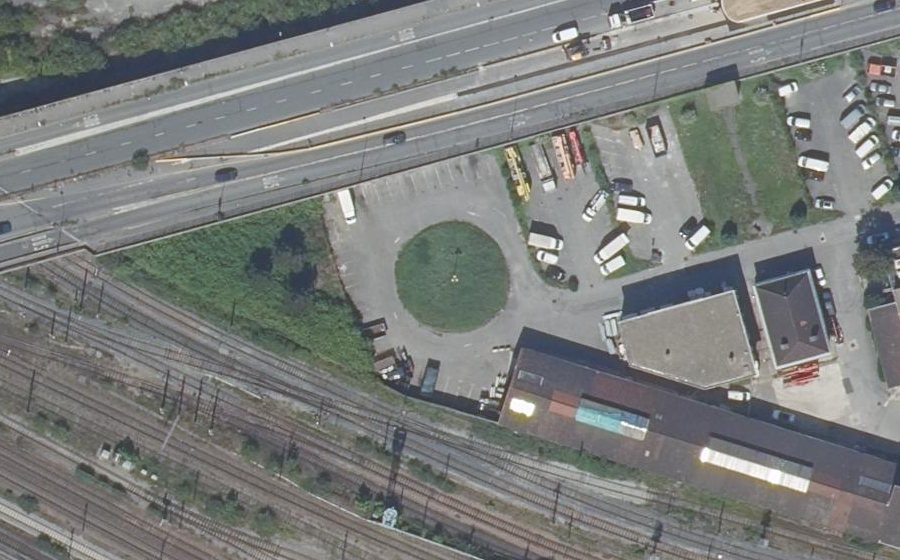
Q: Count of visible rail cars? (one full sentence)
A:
There are no rail cars in the image.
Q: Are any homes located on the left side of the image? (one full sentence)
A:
No, no home appears on the left side of the image.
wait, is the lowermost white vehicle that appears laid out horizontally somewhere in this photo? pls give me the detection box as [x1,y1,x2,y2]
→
[726,389,751,403]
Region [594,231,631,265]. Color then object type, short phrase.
white van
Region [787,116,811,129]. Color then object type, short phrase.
white vehicle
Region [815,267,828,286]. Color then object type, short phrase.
white vehicle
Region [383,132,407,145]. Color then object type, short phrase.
gray vehicle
